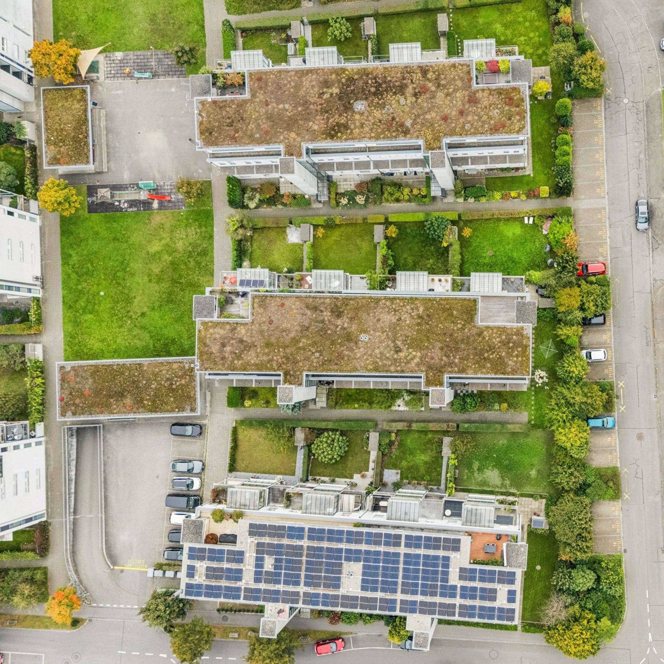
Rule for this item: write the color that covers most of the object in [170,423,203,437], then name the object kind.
gray car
